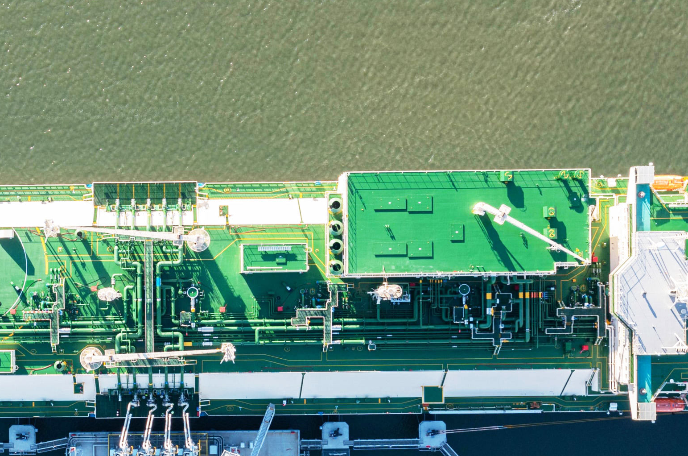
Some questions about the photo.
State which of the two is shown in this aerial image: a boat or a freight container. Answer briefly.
boat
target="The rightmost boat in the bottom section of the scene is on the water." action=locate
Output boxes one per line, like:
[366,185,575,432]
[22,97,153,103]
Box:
[653,395,688,411]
